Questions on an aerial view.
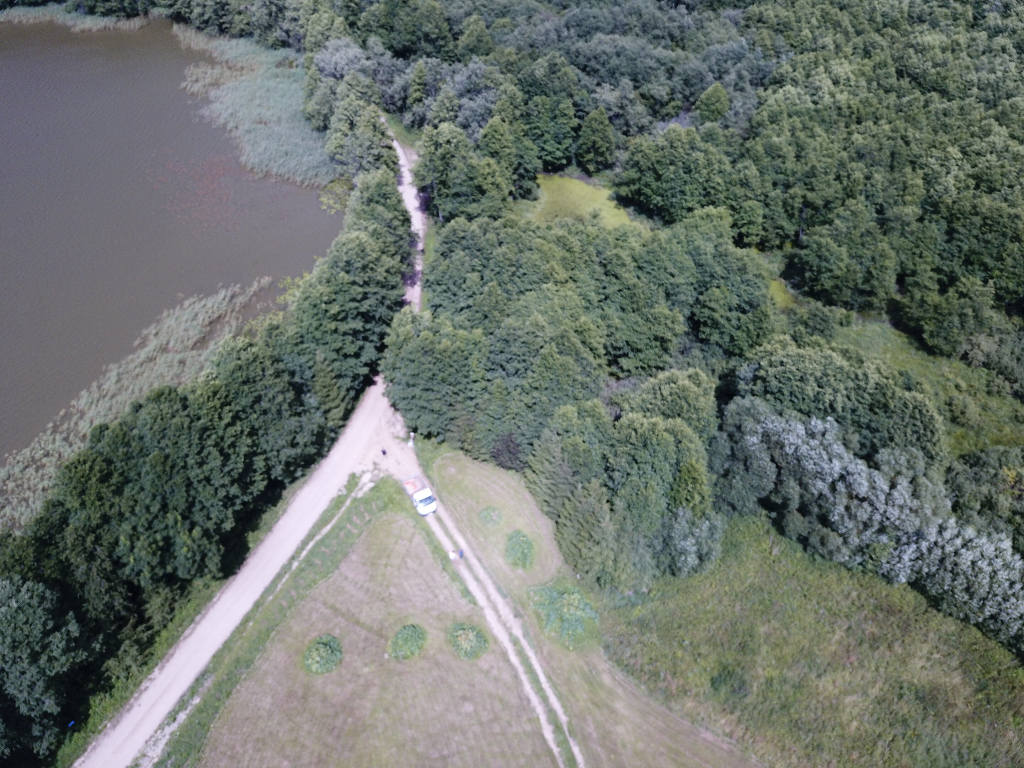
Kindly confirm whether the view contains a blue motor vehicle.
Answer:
No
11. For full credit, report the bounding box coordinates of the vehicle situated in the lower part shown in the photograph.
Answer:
[403,472,434,517]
